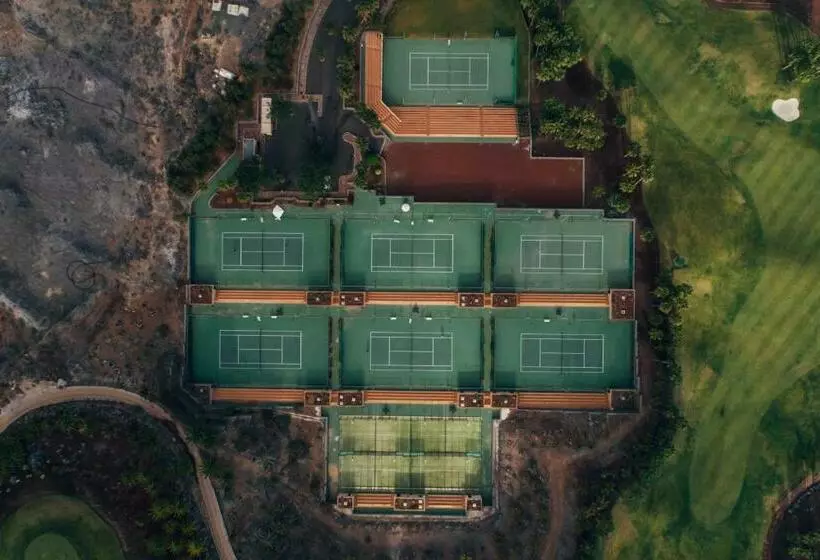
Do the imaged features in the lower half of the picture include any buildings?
Yes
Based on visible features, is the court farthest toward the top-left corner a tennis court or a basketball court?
tennis court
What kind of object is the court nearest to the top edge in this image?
tennis court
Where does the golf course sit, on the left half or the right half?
right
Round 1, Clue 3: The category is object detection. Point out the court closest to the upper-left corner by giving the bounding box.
[195,218,330,288]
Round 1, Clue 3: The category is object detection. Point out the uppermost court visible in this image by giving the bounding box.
[383,38,515,107]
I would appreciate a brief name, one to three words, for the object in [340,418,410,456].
sports court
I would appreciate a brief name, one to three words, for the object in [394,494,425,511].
building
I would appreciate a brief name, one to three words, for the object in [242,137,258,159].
shed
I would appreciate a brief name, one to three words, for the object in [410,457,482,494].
sports court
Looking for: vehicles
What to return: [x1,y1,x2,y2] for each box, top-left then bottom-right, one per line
[216,65,235,79]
